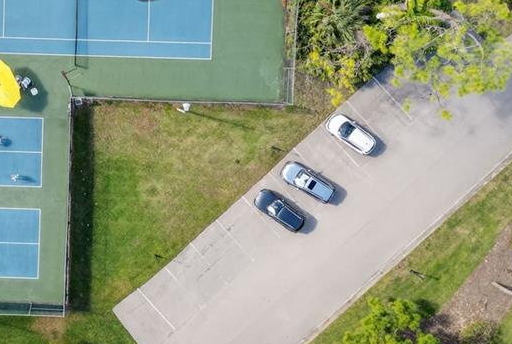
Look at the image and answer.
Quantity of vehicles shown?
three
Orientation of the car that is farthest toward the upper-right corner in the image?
at an angle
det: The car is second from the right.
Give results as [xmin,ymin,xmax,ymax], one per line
[282,161,338,204]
